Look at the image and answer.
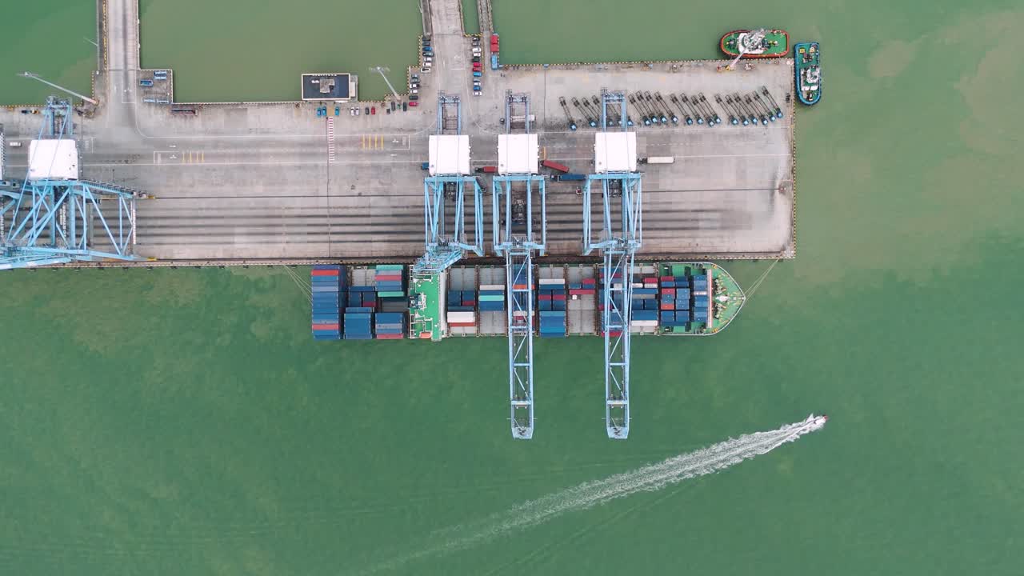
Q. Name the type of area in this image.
port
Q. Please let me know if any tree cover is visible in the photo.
No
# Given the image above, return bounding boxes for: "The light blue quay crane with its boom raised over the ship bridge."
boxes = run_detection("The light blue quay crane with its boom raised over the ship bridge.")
[408,84,489,281]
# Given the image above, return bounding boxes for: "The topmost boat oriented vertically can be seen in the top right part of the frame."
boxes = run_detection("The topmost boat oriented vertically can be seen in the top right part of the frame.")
[792,43,820,108]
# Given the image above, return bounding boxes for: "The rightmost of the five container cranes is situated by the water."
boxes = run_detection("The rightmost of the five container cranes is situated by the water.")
[573,82,645,437]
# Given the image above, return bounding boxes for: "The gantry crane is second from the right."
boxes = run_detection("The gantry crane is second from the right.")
[490,83,550,438]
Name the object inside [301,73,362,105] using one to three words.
building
